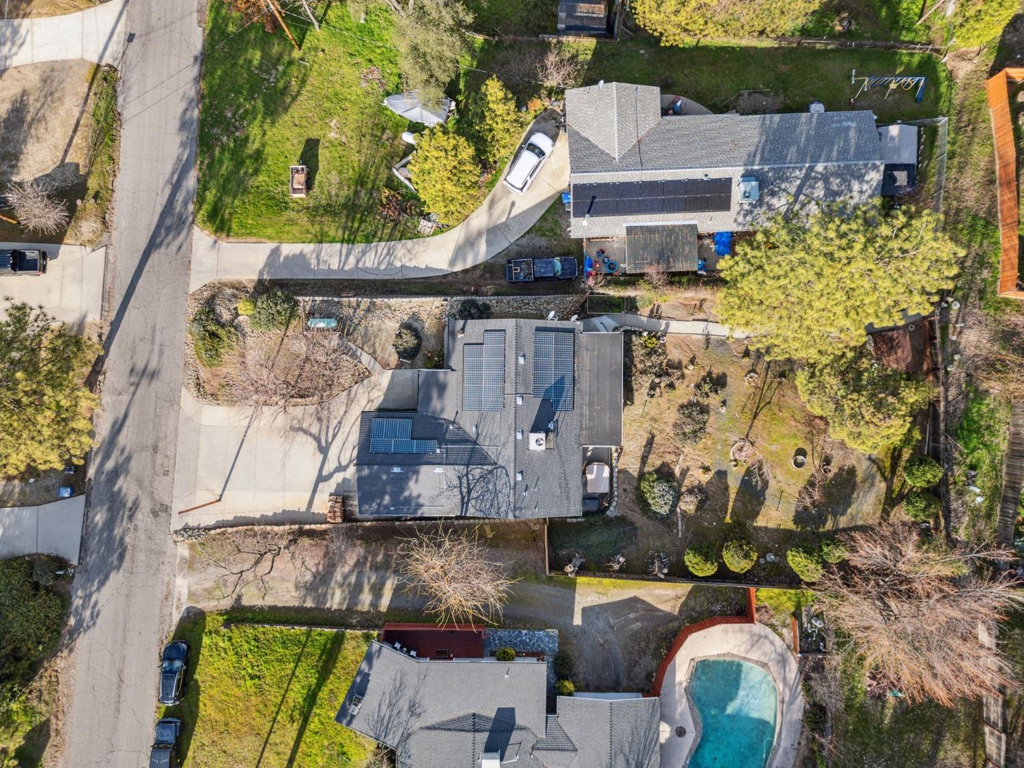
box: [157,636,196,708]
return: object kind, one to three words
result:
car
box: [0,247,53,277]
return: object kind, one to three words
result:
truck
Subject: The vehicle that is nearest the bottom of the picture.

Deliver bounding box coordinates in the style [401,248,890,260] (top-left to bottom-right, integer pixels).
[148,715,188,768]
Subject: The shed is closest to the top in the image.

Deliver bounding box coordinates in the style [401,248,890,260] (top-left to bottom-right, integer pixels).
[558,0,608,35]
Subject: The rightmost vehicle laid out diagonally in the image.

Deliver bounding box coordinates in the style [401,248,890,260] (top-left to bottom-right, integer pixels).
[501,131,557,198]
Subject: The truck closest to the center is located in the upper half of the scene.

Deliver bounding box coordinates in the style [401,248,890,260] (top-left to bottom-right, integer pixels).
[505,252,580,285]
